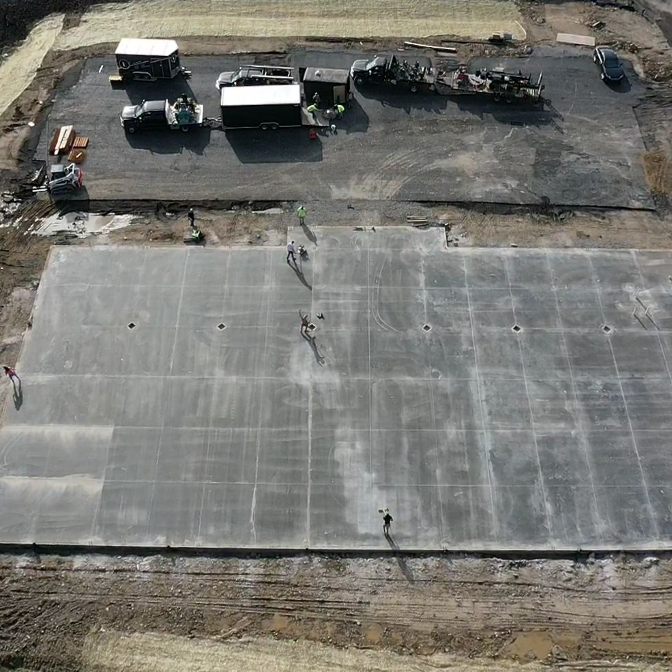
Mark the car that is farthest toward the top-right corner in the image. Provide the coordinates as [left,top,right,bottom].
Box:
[592,50,632,84]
